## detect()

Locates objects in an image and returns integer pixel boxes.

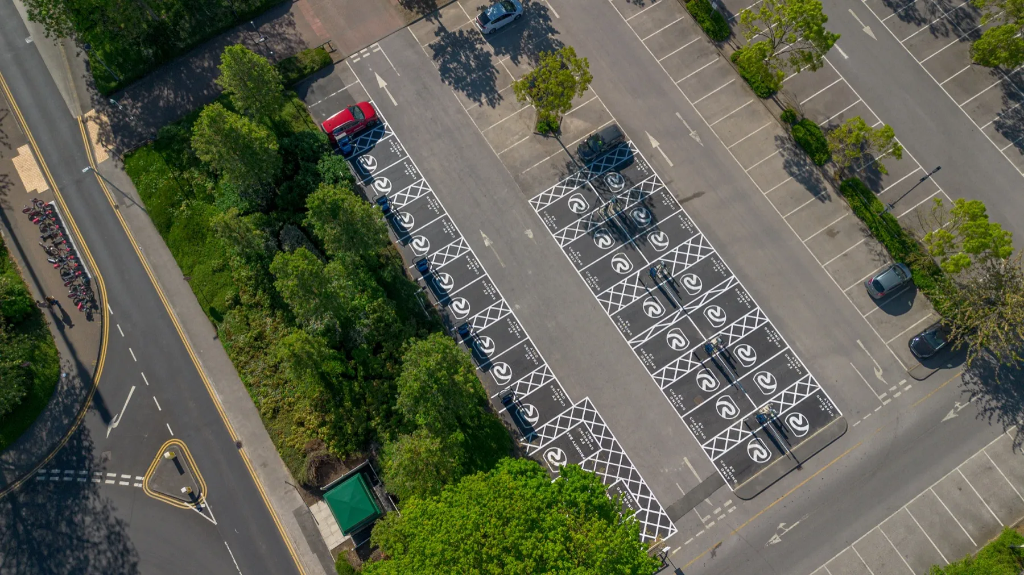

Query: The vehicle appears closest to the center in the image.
[575,122,629,165]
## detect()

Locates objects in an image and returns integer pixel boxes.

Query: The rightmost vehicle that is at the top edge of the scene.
[476,0,525,36]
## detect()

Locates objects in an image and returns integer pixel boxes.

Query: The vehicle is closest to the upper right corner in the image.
[859,261,913,304]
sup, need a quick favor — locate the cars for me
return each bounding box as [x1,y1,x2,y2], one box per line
[859,261,913,304]
[476,0,525,36]
[902,317,962,363]
[321,102,378,143]
[575,122,629,165]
